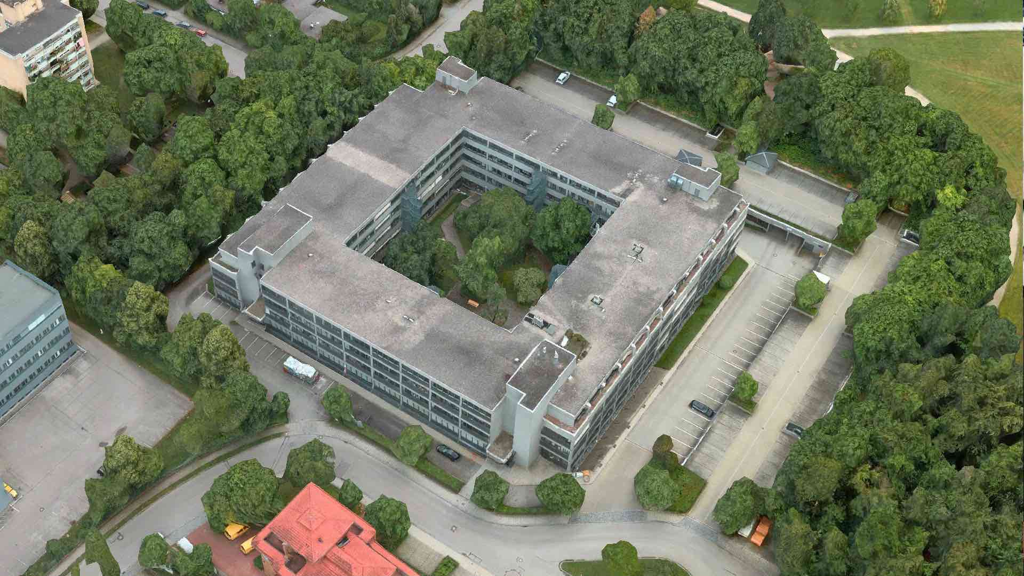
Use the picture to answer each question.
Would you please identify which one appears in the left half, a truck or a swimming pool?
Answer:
truck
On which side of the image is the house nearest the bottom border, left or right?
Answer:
left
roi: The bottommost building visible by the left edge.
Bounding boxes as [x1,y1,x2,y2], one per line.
[0,269,77,422]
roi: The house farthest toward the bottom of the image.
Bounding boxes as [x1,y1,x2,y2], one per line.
[255,483,419,576]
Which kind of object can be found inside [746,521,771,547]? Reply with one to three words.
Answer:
truck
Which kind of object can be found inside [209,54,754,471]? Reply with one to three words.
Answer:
building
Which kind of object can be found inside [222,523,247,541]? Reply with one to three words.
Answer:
car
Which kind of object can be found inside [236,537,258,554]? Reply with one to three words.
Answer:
car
